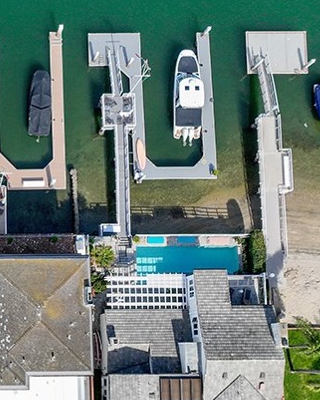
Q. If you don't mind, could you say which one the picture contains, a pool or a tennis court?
pool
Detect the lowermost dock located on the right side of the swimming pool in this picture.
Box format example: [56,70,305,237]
[250,112,299,293]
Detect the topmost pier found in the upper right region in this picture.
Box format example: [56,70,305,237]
[245,31,308,75]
